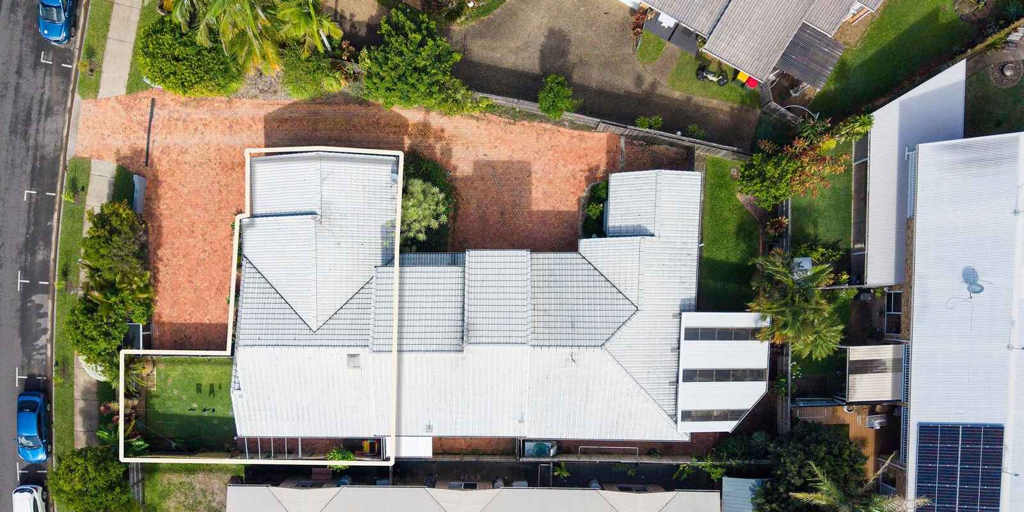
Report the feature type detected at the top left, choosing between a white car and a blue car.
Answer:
blue car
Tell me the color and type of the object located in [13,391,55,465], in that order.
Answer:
blue car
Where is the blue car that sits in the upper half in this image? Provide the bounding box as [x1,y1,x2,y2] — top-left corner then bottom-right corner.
[32,0,74,45]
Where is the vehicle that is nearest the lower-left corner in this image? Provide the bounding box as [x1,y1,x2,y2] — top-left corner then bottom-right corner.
[11,484,51,512]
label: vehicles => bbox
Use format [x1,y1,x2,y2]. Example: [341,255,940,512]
[694,65,729,82]
[32,0,74,45]
[11,484,51,512]
[13,391,55,465]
